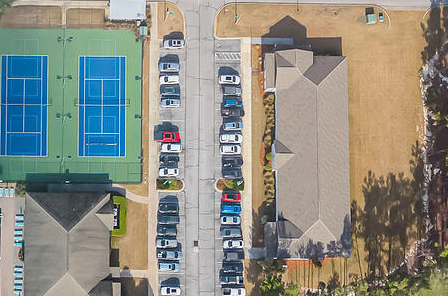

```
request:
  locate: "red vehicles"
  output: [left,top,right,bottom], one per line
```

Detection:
[155,133,180,143]
[221,193,242,203]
